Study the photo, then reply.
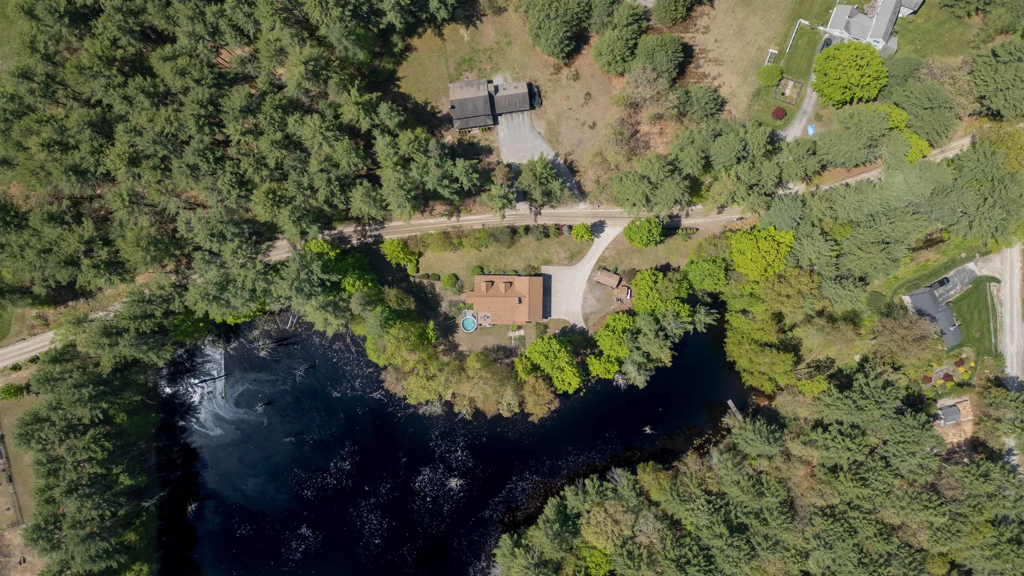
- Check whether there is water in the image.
Yes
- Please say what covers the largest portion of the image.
trees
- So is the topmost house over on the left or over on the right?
right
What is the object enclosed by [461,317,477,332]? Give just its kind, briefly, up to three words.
swimming pool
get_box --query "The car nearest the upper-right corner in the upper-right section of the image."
[819,35,832,53]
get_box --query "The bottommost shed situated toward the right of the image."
[935,401,963,421]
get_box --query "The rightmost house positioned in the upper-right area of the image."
[820,0,927,56]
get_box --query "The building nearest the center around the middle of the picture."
[466,275,543,324]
